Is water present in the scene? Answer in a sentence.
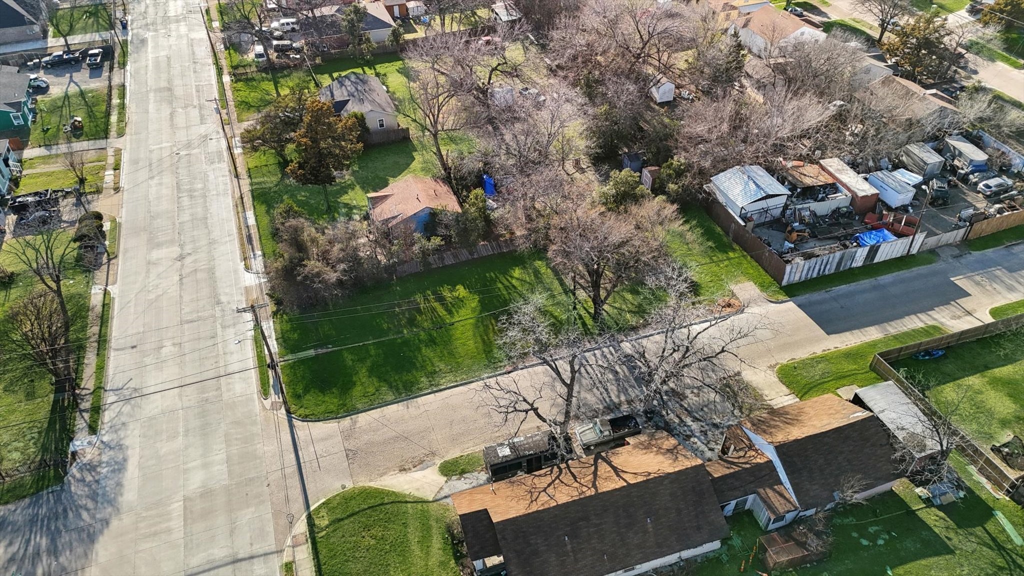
No, water can't be seen anywhere here.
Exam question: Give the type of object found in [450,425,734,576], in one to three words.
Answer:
house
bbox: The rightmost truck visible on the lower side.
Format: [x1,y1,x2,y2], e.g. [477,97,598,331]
[575,409,641,447]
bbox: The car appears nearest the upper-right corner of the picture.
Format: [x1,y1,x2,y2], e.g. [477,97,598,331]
[961,2,979,15]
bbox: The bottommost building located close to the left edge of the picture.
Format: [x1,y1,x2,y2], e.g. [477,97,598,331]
[0,135,31,204]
